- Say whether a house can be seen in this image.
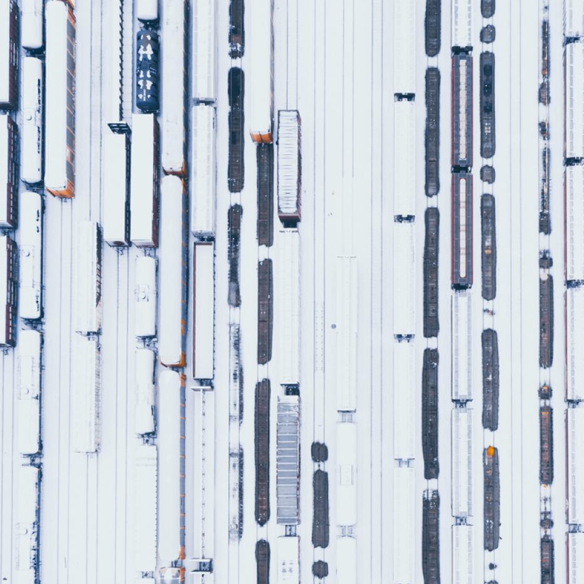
No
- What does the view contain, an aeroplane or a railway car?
railway car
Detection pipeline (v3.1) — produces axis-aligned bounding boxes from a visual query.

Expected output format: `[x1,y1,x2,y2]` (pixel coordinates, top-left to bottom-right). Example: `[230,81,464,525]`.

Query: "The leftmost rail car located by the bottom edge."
[14,459,42,584]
